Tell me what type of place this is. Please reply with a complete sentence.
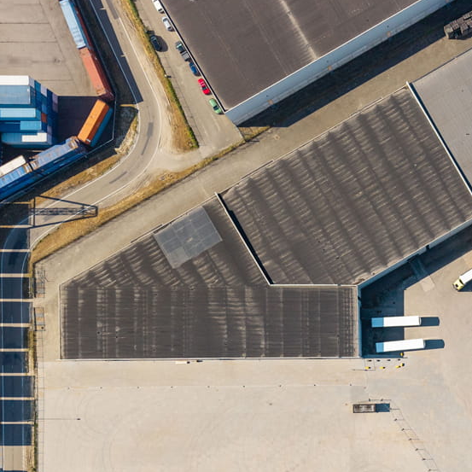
This image shows an industrial area.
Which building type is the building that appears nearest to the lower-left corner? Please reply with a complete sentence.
The building that appears nearest to the lower-left corner is a warehouse.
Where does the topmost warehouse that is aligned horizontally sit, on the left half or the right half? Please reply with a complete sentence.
It is on the right.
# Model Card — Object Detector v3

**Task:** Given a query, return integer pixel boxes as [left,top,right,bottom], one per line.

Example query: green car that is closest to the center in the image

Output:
[209,98,223,115]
